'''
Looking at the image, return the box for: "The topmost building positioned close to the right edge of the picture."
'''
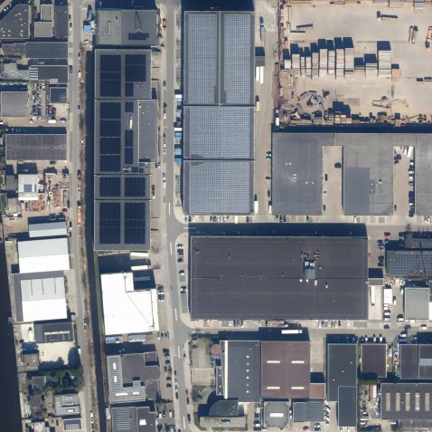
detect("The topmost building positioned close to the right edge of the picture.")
[271,133,432,216]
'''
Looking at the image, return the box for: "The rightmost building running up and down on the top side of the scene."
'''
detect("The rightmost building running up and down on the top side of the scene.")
[183,11,252,215]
